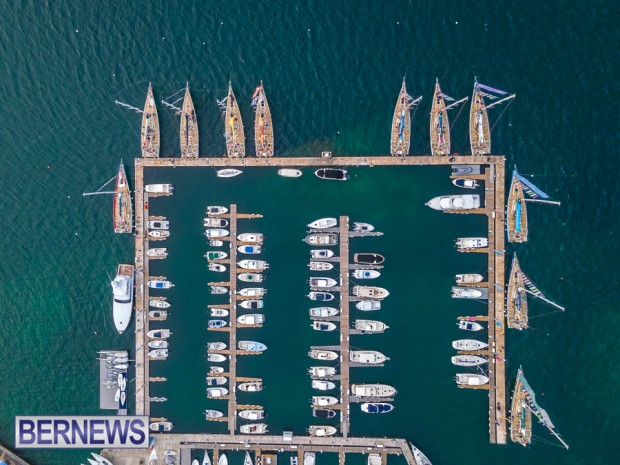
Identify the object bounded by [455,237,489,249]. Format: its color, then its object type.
white boat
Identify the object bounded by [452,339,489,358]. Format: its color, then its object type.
white boat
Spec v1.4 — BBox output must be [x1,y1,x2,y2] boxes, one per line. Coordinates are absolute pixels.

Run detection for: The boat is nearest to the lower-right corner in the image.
[504,366,564,444]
